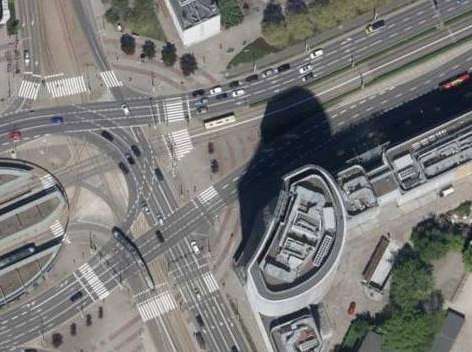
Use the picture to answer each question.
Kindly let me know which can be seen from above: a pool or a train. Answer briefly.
train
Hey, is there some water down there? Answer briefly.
No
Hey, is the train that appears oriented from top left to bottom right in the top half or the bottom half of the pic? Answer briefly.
bottom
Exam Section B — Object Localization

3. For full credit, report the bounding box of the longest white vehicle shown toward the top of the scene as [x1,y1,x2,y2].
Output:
[205,117,236,131]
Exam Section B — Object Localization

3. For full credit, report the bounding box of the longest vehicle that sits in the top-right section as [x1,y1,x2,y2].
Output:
[441,76,470,94]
